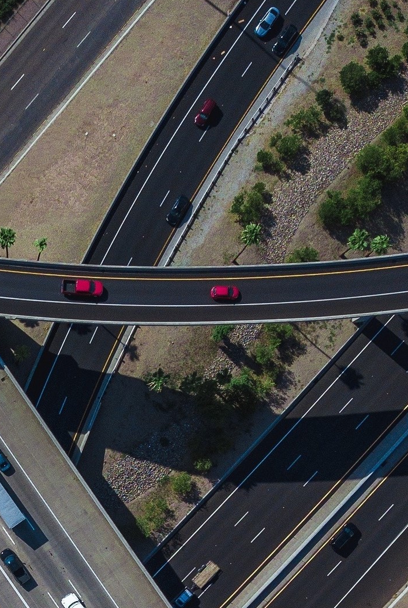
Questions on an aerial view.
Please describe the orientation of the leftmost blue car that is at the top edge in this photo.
on a diagonal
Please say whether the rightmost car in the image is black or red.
black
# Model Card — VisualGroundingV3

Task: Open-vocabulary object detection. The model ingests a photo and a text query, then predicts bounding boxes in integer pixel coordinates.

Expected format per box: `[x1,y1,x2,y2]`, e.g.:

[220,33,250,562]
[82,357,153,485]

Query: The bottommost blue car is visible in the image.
[171,586,197,608]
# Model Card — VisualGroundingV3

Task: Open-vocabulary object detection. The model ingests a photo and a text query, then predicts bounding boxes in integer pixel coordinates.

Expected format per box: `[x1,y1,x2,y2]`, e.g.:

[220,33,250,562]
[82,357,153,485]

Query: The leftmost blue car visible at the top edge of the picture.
[254,5,281,40]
